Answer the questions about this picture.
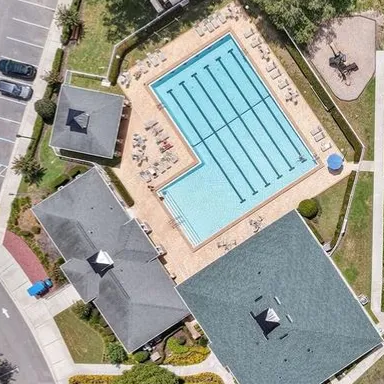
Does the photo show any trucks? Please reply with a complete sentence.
No, the scene contains no truck.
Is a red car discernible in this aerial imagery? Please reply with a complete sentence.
No, there is no red car in the image.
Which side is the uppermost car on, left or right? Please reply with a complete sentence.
The uppermost car is on the left side of the image.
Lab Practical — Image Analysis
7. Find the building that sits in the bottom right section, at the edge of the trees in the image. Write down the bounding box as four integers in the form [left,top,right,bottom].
[175,209,384,384]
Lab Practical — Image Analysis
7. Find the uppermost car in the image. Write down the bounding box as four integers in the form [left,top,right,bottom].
[0,60,35,80]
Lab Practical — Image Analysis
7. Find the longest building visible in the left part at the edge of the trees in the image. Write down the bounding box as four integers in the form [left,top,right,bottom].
[30,166,192,353]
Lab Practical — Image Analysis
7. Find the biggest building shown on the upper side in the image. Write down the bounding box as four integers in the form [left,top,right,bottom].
[49,84,126,159]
